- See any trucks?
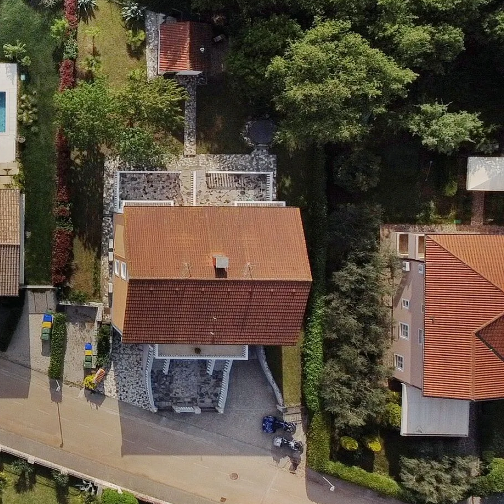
No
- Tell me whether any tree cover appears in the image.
Yes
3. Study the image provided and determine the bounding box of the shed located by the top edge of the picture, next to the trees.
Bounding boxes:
[154,20,214,75]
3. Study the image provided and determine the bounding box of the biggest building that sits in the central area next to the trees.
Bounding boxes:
[112,171,313,418]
